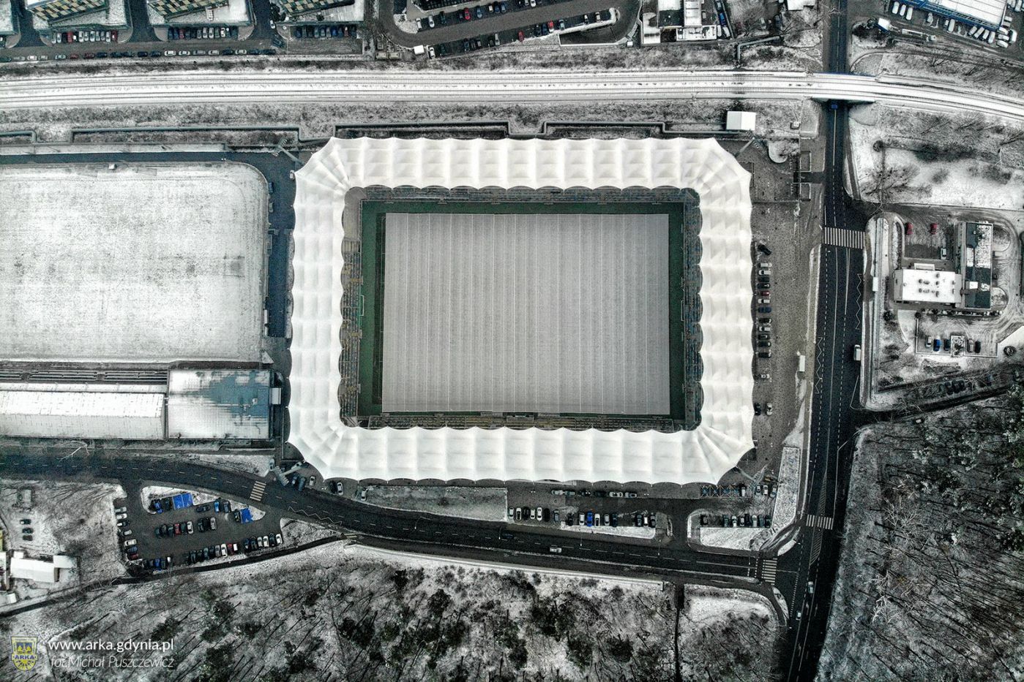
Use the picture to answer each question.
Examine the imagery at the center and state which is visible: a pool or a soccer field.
soccer field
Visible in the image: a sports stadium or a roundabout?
sports stadium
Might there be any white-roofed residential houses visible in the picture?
Yes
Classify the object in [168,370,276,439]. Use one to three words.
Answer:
building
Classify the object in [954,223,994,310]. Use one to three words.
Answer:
building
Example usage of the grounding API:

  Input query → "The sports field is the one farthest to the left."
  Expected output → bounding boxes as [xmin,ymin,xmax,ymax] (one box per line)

[0,162,272,362]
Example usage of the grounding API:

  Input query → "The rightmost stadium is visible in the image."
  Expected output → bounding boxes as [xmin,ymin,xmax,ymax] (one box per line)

[286,136,756,486]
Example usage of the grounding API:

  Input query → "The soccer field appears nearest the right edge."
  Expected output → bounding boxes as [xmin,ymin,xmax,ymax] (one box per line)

[359,202,684,418]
